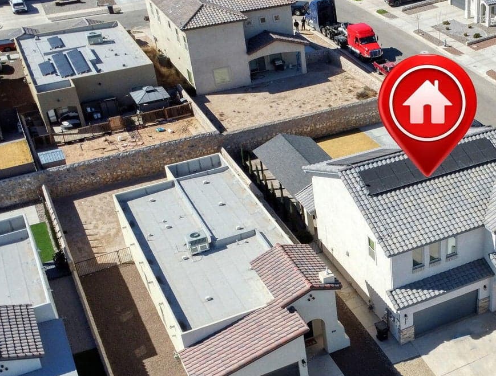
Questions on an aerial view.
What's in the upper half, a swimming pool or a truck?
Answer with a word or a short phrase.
truck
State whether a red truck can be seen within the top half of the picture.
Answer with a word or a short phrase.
Yes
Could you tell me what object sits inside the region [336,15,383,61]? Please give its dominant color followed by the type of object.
red truck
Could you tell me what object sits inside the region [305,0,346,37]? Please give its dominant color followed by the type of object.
black truck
